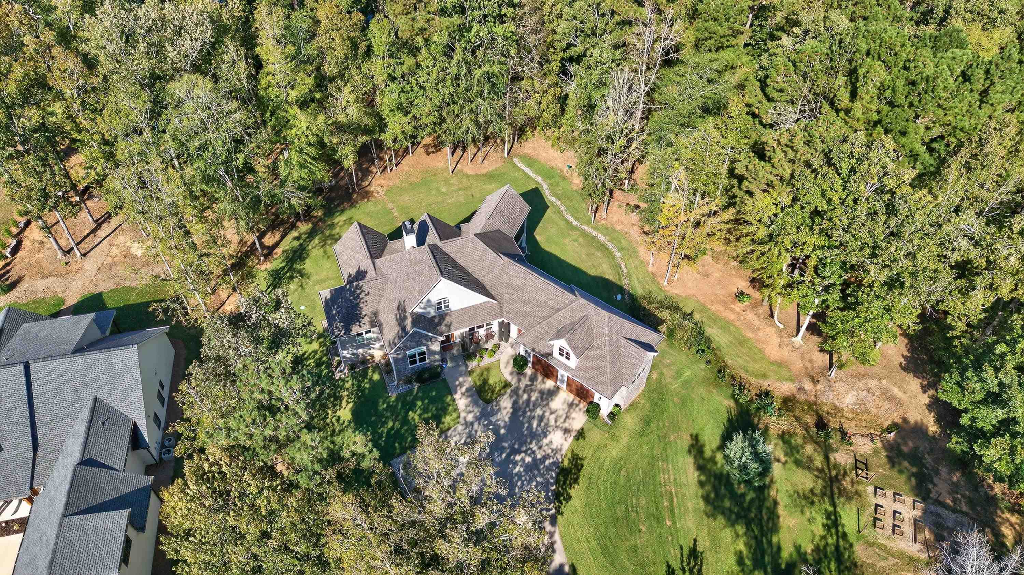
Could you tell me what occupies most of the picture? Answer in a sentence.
The largest share of the image is taken up by trees.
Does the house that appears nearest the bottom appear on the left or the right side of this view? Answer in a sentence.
The house that appears nearest the bottom is on the left side of the image.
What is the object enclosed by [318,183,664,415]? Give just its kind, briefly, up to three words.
house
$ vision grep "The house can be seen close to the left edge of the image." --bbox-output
[0,301,175,575]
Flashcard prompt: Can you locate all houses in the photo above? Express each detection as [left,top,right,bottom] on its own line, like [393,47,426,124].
[318,183,664,415]
[0,301,175,575]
